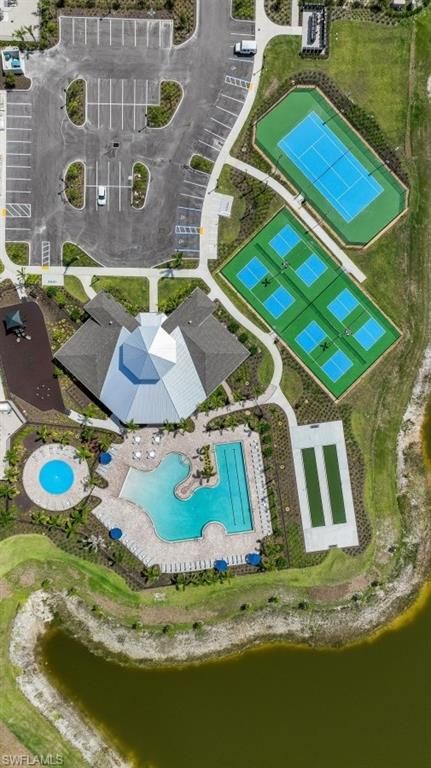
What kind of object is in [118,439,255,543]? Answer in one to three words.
swimming pool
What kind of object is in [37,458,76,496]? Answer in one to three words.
swimming pool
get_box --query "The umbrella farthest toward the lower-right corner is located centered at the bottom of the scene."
[246,552,260,566]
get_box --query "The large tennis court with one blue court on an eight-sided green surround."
[253,86,409,248]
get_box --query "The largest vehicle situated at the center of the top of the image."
[234,42,258,56]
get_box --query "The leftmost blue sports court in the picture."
[236,256,296,319]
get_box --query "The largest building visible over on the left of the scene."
[54,287,250,424]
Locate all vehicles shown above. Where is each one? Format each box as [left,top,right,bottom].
[234,42,258,56]
[97,187,107,208]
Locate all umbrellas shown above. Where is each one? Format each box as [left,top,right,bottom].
[109,526,122,539]
[100,452,112,464]
[246,552,260,566]
[214,558,228,572]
